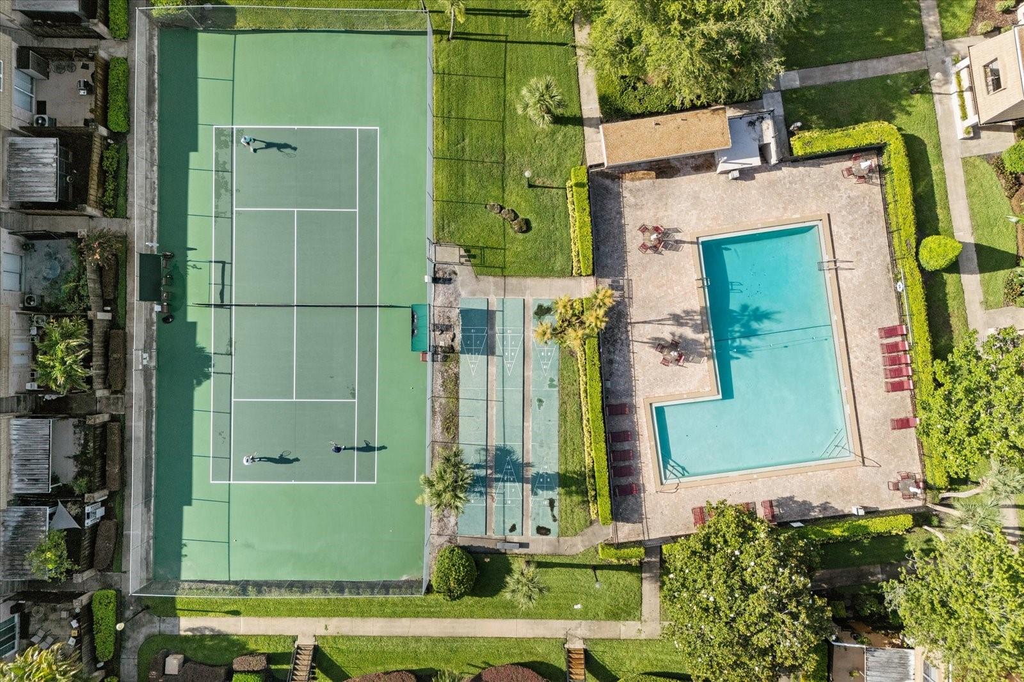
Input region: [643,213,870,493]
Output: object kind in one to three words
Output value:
swimming pool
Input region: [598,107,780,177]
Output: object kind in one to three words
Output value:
building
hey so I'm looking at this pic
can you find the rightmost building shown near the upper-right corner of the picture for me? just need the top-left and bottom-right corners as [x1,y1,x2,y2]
[959,21,1024,131]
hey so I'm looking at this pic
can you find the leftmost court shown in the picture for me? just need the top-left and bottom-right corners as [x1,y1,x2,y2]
[153,29,433,581]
